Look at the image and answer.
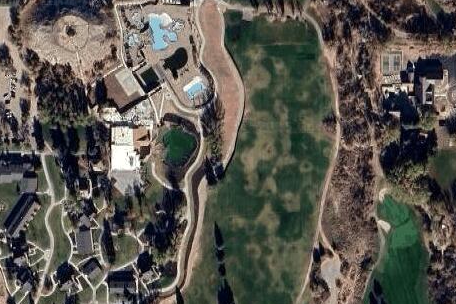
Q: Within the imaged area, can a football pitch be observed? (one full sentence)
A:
No, no football pitch is visible in the view.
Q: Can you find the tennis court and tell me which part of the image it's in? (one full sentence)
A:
The tennis court is located in the top right region of the scene.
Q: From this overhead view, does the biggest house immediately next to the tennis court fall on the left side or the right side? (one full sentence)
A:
The biggest house immediately next to the tennis court sits on the right side.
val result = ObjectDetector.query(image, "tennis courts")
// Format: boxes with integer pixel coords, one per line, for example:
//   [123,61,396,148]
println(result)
[381,51,402,76]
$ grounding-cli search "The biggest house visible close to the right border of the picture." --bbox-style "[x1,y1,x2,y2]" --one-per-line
[399,58,442,108]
